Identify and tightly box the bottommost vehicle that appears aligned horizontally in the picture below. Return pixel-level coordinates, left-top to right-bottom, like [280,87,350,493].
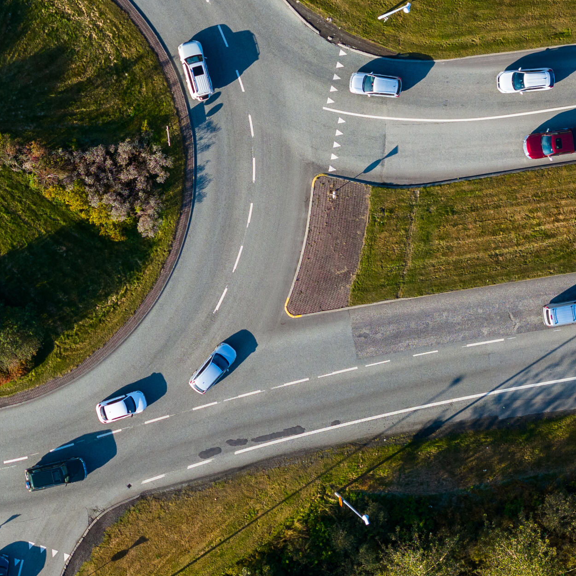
[26,459,87,491]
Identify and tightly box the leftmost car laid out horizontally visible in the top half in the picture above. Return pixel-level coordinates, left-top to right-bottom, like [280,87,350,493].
[348,70,404,98]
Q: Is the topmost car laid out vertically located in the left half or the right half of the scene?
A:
left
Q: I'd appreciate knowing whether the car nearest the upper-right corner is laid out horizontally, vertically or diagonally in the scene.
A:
horizontally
